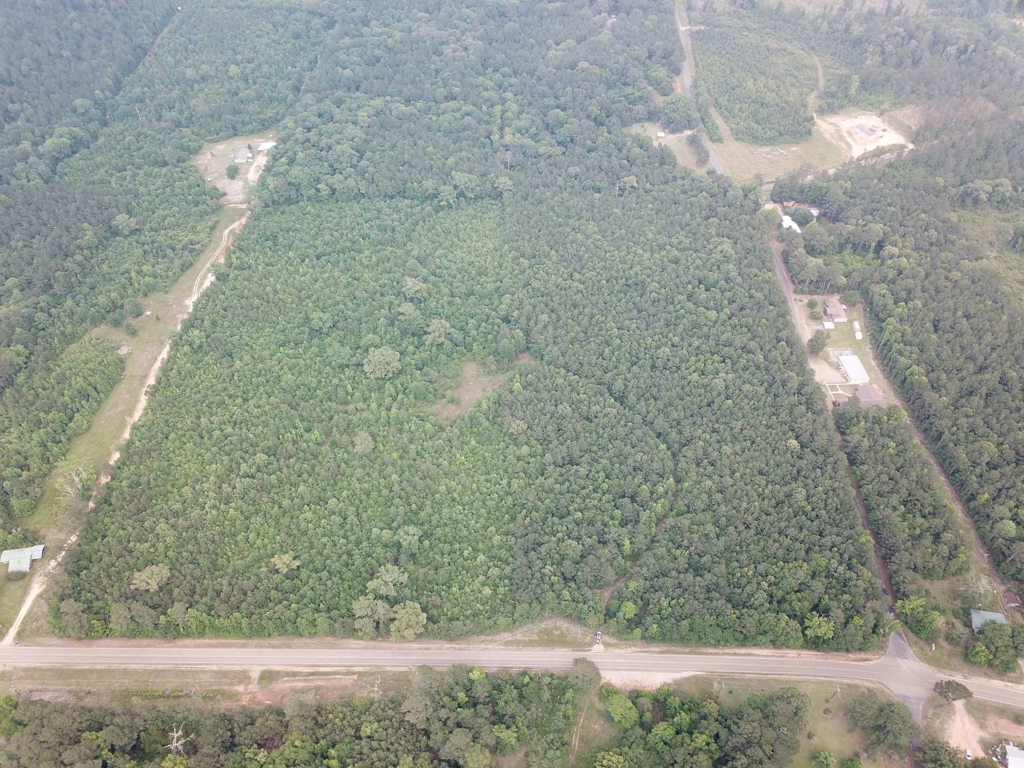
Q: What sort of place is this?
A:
forest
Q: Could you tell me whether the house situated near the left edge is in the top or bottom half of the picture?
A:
bottom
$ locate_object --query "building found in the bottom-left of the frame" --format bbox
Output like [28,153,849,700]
[0,545,47,577]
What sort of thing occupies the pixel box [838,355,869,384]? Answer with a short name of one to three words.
building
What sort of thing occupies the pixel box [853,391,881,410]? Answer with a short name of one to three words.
house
